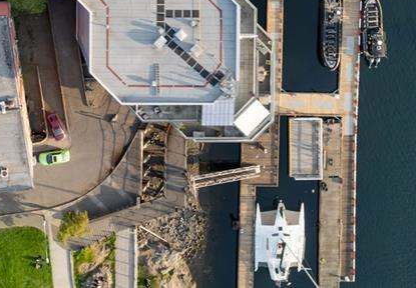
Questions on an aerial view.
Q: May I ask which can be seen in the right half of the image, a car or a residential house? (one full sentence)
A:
You can see a residential house in the right half of the image.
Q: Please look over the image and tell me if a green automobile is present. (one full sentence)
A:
Yes, looking at the shot, I can spot a green automobile.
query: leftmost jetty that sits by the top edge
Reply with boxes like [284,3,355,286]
[265,0,286,94]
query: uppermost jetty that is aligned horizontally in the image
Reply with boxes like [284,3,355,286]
[275,90,344,117]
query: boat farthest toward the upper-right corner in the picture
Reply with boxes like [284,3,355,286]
[361,0,386,65]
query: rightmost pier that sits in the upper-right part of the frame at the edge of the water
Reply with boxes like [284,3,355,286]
[338,0,362,137]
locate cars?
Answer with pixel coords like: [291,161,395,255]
[47,110,66,141]
[37,147,71,164]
